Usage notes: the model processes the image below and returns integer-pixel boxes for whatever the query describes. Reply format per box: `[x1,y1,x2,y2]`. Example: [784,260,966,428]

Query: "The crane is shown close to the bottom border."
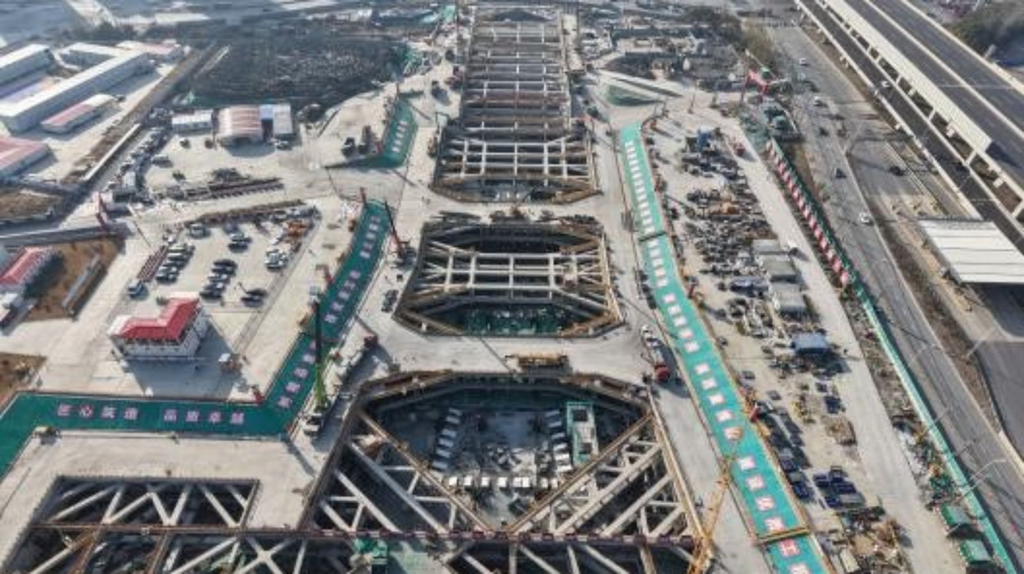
[685,440,737,574]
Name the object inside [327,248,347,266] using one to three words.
work vehicle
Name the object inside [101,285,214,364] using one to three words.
house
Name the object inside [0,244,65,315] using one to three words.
building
